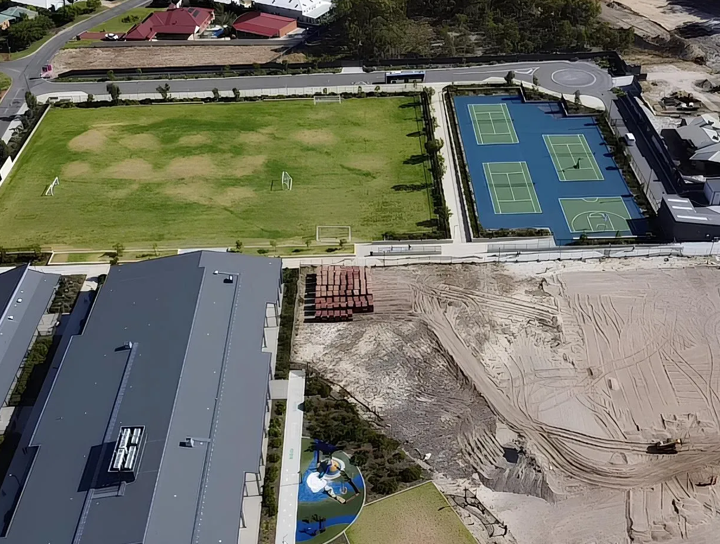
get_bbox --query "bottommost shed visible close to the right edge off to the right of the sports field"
[660,198,720,239]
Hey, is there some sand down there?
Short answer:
Yes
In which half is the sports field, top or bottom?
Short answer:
top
